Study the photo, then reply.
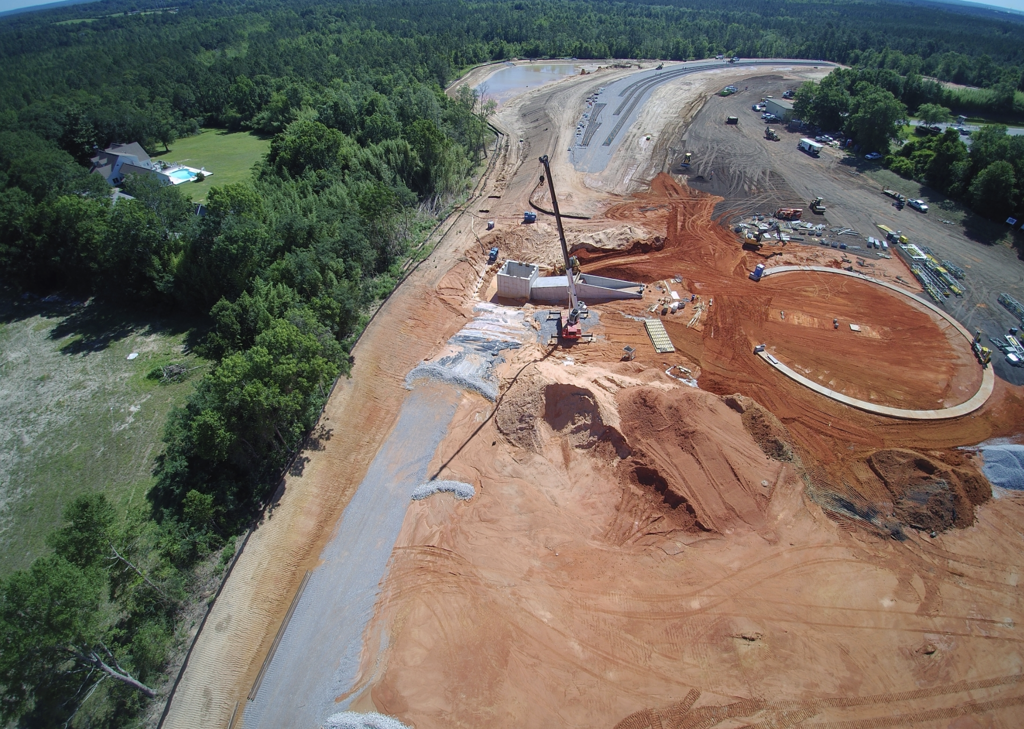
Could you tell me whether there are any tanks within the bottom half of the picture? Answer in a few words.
No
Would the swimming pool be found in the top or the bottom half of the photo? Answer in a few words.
top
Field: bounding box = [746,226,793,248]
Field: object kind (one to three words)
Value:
work vehicle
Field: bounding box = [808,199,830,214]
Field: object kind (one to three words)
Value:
work vehicle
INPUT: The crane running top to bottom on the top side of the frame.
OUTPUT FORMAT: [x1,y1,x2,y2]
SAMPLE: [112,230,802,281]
[531,154,597,341]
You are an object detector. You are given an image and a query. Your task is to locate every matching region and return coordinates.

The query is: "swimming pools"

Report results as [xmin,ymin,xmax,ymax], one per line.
[165,163,213,184]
